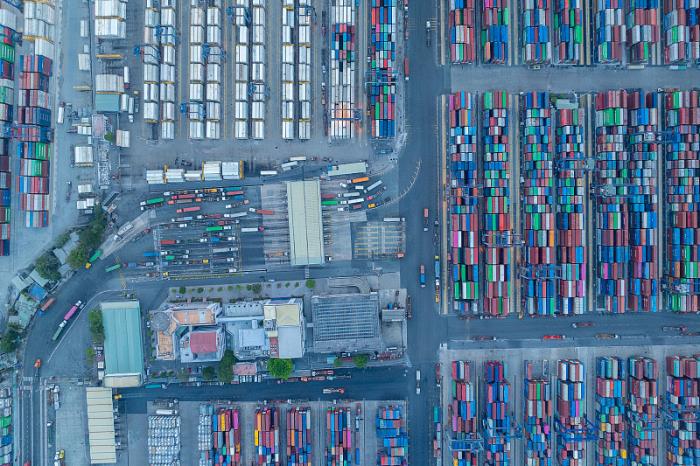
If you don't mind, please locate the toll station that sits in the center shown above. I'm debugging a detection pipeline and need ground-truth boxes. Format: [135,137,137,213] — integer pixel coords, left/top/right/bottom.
[282,180,332,266]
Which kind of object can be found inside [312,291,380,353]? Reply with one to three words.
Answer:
building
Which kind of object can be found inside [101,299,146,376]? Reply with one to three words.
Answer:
building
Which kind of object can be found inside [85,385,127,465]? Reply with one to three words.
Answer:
shed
